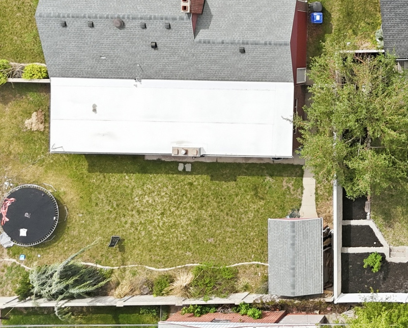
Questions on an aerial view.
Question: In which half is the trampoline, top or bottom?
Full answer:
The trampoline is in the bottom half of the image.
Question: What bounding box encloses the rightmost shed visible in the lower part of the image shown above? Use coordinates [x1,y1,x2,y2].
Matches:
[268,217,325,296]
